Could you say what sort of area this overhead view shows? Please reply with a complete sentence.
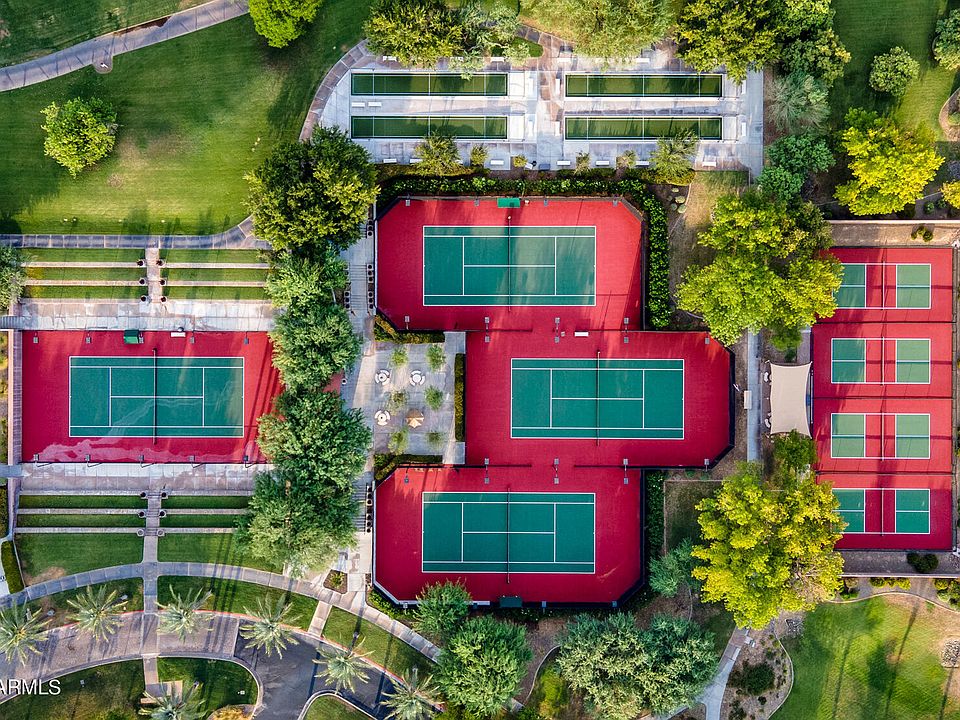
What you see here is a sports ground.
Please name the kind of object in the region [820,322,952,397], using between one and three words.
sports court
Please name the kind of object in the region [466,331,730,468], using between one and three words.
tennis court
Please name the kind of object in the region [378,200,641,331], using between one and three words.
tennis court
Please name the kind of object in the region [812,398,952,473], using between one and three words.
sports court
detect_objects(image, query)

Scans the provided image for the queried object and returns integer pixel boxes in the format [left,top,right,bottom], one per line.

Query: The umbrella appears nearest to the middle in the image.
[404,412,423,431]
